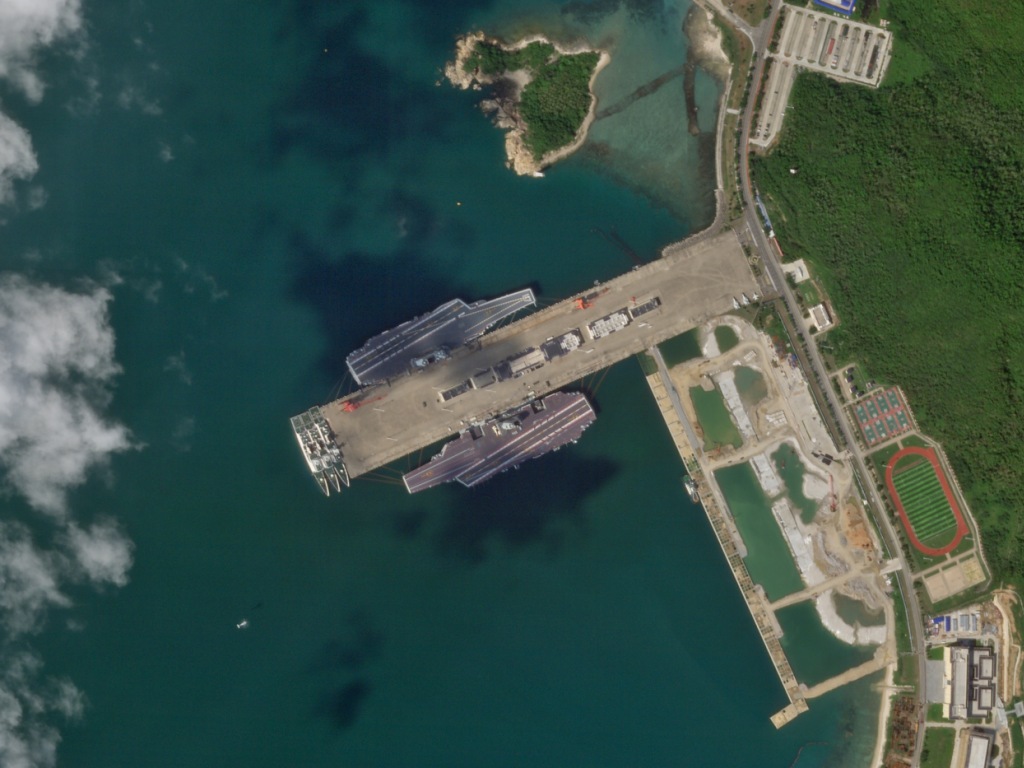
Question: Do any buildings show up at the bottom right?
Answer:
Yes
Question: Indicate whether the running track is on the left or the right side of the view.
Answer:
right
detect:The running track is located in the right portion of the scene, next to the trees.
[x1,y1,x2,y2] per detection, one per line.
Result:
[887,446,965,556]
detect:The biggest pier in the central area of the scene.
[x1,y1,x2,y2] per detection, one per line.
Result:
[320,229,762,479]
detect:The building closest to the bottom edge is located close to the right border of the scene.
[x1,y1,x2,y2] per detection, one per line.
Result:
[957,730,994,768]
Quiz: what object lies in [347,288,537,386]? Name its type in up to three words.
ship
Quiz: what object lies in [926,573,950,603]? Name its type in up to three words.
sports court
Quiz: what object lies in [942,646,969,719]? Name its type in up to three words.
building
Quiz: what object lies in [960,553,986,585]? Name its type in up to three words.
sports court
